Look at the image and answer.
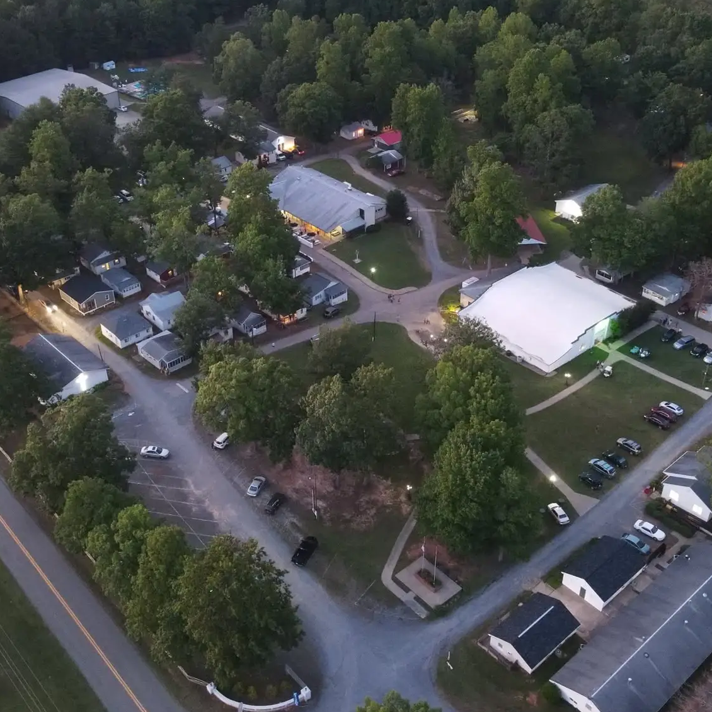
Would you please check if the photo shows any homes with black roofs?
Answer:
Yes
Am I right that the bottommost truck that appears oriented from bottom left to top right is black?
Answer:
Yes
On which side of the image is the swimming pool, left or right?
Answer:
left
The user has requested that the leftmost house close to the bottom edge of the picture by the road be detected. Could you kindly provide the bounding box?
[479,592,576,686]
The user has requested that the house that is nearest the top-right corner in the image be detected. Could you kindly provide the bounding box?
[554,181,605,223]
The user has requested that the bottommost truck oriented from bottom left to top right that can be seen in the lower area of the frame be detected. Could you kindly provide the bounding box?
[289,533,321,569]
